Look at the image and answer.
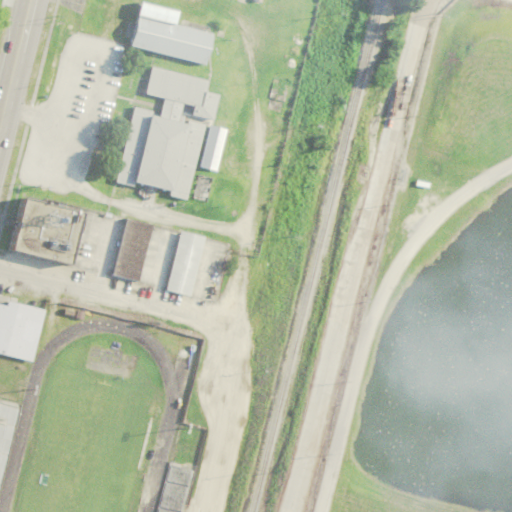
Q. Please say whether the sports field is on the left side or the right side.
left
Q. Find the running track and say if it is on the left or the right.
left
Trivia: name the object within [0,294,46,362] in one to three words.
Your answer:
building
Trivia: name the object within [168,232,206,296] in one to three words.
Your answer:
shed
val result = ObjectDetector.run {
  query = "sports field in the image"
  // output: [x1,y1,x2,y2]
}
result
[12,336,164,512]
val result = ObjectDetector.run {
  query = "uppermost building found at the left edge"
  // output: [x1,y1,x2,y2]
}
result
[14,199,86,264]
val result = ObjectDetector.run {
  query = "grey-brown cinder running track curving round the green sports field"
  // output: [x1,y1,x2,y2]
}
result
[0,320,182,512]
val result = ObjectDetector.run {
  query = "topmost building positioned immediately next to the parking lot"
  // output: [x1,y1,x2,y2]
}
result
[132,1,215,65]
